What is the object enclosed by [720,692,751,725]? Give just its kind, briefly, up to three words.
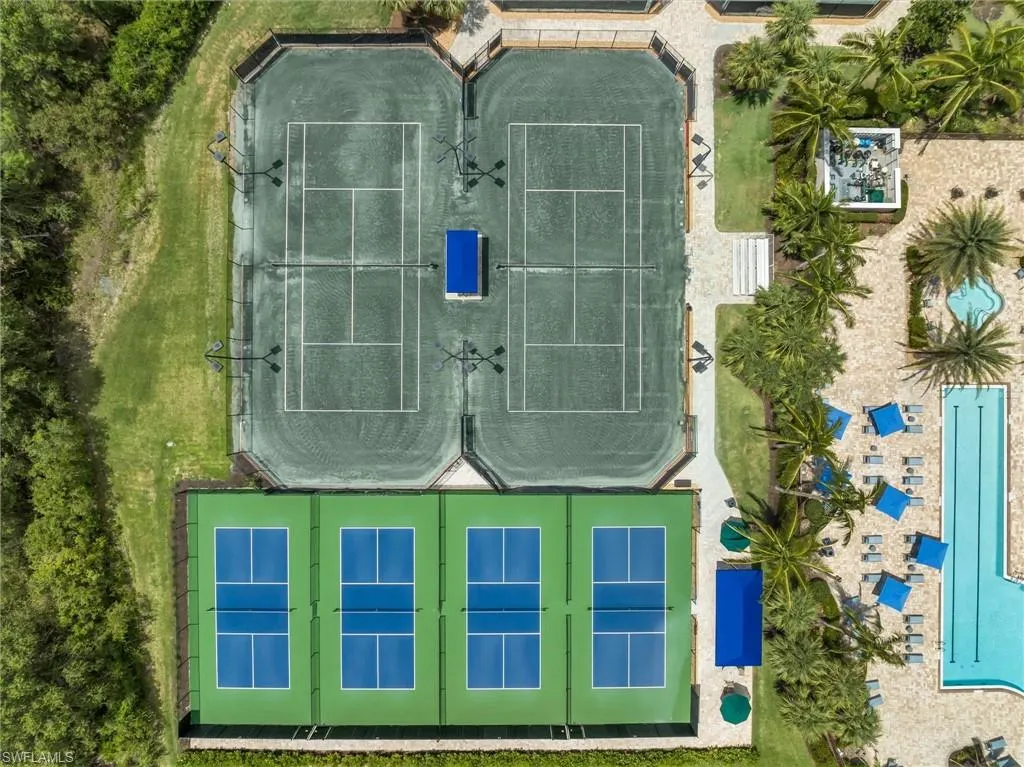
umbrella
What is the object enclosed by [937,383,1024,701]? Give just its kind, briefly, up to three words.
swimming pool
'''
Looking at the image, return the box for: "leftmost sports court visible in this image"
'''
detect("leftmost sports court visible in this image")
[187,492,313,725]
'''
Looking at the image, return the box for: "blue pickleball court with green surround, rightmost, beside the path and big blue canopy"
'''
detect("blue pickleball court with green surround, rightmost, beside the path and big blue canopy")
[567,492,691,725]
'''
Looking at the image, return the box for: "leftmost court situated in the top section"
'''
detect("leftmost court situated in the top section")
[231,47,464,489]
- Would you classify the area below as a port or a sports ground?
sports ground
